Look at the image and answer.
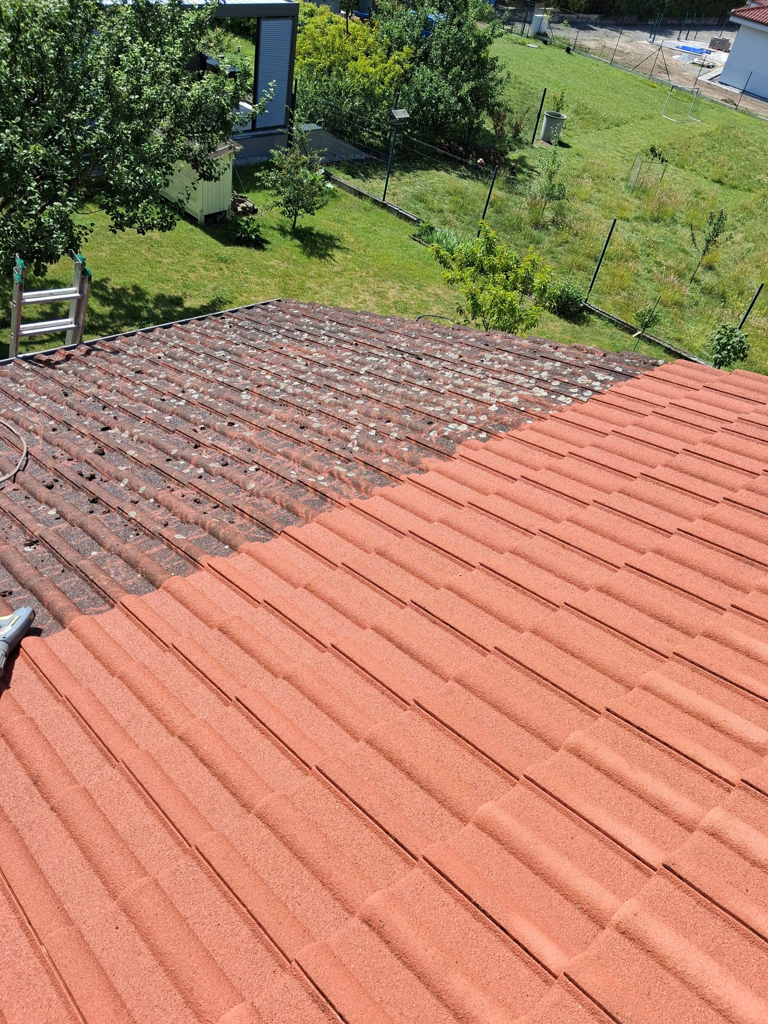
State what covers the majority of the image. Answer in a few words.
buildings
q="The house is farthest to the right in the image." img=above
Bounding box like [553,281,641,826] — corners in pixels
[718,2,768,101]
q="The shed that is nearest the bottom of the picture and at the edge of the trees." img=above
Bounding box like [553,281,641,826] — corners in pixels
[0,290,768,1024]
